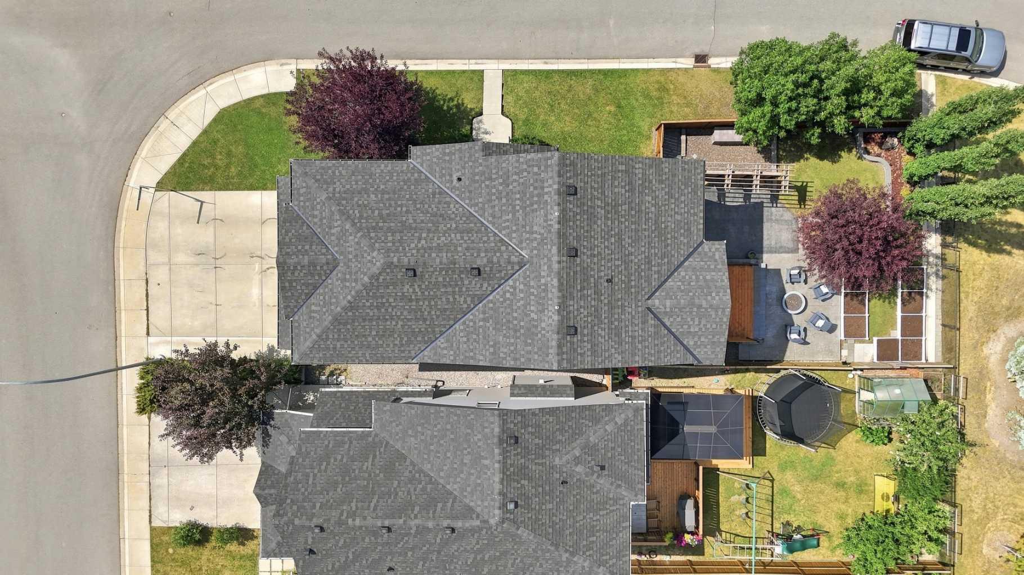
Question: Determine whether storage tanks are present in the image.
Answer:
No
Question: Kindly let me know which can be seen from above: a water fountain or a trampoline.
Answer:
trampoline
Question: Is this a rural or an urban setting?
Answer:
urban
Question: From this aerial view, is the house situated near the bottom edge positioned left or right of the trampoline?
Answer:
on the left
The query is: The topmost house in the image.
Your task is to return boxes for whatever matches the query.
[274,141,732,371]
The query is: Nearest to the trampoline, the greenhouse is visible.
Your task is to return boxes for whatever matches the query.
[855,374,928,418]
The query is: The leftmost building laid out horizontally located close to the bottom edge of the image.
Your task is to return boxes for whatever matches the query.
[252,377,652,575]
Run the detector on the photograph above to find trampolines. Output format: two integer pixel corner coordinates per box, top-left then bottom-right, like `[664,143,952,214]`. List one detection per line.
[752,368,852,456]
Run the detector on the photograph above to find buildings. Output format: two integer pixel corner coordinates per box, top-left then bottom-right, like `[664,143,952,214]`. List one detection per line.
[252,377,652,575]
[274,141,732,371]
[855,374,928,418]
